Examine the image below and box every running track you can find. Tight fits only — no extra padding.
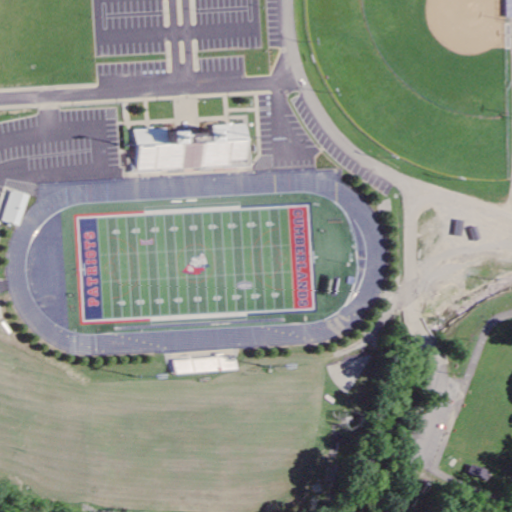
[8,170,381,355]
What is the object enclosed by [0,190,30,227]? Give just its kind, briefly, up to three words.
building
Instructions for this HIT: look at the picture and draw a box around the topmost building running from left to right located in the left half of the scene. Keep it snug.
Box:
[131,121,250,146]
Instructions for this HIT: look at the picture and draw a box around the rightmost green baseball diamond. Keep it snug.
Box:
[307,0,512,180]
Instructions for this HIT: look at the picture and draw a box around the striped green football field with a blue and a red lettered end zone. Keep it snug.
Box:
[61,193,366,332]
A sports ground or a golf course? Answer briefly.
sports ground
